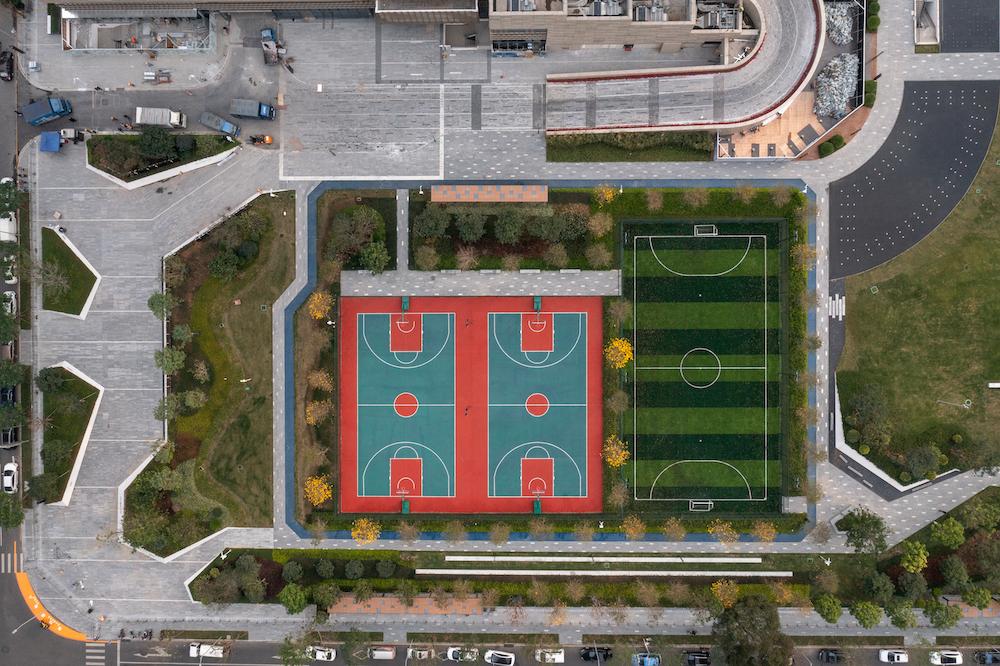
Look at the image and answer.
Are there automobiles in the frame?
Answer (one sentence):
Yes, an automobile can be made out from above.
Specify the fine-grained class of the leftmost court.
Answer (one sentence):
What you see as the leftmost court is a basketball court.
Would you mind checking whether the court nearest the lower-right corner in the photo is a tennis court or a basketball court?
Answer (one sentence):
The court nearest the lower-right corner appears to be a basketball court.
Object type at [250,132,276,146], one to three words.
work vehicle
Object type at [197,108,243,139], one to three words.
truck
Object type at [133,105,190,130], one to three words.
truck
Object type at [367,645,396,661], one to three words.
car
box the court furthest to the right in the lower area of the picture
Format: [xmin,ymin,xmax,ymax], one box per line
[472,298,604,513]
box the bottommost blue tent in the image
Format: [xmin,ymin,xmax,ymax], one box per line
[39,134,67,157]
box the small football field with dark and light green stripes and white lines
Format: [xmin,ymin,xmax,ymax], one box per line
[626,224,780,513]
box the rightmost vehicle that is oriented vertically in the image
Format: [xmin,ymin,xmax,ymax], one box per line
[258,26,281,66]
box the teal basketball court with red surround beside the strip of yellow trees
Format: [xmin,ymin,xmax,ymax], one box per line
[341,298,472,513]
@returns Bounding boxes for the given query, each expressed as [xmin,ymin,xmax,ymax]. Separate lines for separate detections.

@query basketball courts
[472,298,604,513]
[341,298,472,513]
